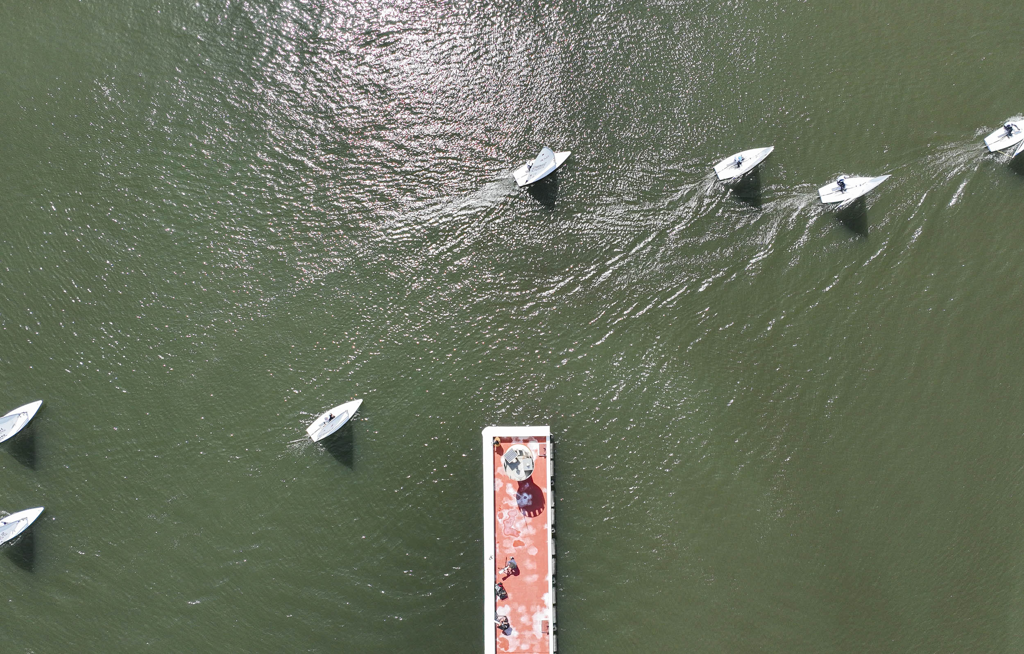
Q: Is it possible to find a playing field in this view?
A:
No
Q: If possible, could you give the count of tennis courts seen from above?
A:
0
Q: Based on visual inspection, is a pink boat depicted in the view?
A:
No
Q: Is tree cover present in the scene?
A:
No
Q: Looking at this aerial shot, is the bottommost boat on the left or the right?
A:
left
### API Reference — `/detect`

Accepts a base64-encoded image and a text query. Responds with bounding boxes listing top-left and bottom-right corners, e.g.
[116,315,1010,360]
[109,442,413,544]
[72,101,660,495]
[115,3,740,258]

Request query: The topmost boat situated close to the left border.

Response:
[0,400,44,442]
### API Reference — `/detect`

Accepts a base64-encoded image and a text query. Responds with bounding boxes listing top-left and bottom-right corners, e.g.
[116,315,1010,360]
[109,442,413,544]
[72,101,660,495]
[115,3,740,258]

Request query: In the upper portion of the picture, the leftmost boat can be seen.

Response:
[513,142,571,186]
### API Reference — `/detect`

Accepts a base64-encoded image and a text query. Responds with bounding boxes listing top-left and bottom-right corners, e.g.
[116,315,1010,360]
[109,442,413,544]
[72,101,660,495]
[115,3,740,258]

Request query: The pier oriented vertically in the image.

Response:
[482,426,554,654]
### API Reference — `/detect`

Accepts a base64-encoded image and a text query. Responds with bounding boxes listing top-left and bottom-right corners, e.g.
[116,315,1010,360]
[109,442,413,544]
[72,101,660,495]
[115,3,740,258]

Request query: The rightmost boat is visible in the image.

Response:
[982,116,1024,157]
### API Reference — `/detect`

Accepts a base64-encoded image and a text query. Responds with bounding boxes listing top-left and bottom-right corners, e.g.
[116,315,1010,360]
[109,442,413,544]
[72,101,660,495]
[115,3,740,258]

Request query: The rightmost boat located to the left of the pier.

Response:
[307,400,362,442]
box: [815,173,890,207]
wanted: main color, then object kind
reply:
white boat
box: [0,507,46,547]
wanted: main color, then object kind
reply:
white boat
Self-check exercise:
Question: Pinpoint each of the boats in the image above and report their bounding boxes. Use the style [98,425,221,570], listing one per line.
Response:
[0,400,44,442]
[982,116,1024,157]
[712,142,774,180]
[0,507,46,547]
[307,400,362,442]
[513,142,571,186]
[815,173,890,207]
